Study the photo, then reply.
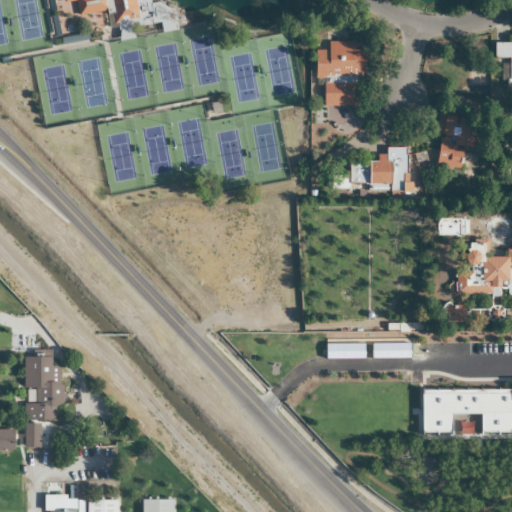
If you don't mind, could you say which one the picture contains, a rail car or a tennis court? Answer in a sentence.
Of the two, only a tennis court appears.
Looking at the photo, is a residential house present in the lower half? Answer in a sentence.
Yes, a residential house shows up in the lower half.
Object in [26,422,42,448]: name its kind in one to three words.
building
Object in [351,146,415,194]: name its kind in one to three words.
house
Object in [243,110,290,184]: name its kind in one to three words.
tennis court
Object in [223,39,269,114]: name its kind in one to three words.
tennis court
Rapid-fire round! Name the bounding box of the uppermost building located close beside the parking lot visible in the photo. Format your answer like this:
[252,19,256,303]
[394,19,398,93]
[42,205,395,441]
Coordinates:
[25,350,66,421]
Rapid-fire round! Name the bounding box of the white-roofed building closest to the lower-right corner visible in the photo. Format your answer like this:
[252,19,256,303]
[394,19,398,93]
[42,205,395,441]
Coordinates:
[424,388,512,435]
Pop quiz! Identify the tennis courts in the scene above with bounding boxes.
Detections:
[223,39,269,114]
[110,36,159,116]
[98,118,146,193]
[243,110,290,184]
[134,112,181,188]
[70,44,116,122]
[169,105,216,182]
[207,115,255,191]
[8,0,53,52]
[182,26,230,102]
[33,50,82,128]
[146,30,194,109]
[256,34,296,108]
